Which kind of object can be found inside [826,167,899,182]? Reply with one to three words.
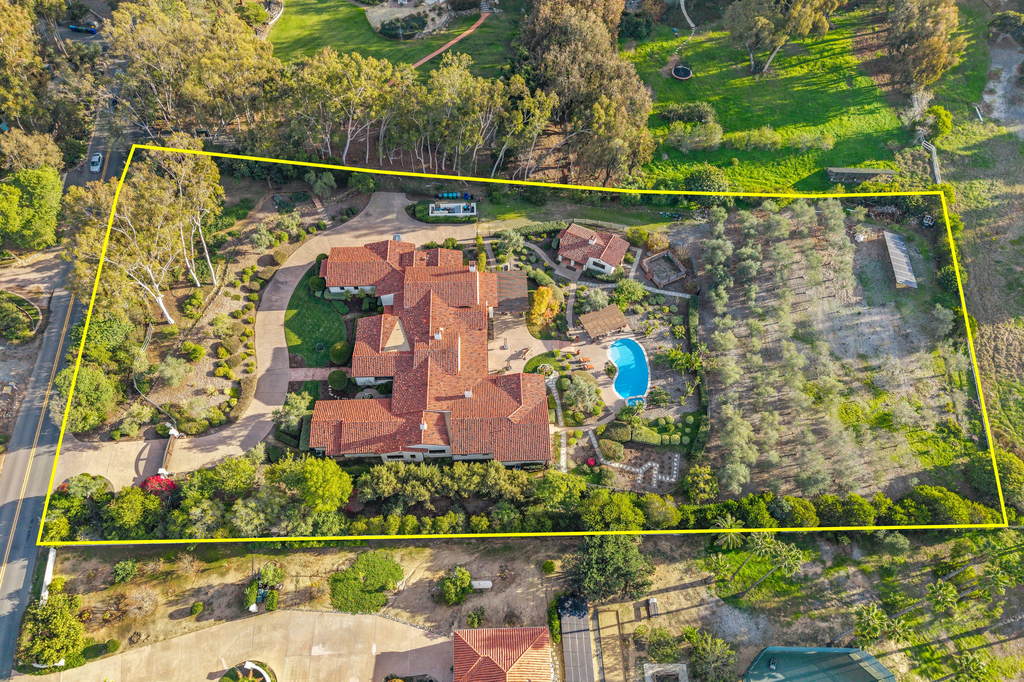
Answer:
solar array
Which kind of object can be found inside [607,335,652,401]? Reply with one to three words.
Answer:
swimming pool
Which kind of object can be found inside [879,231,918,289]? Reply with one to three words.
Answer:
solar array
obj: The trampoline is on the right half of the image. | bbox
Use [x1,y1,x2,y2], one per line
[672,59,694,81]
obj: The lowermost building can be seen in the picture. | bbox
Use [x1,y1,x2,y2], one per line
[451,628,551,682]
